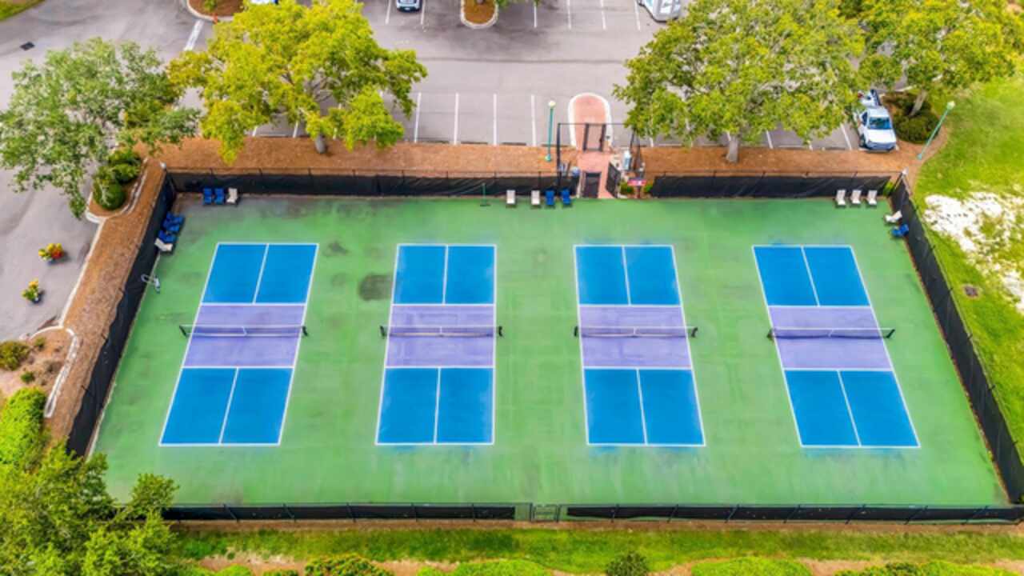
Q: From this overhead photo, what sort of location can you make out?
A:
sports ground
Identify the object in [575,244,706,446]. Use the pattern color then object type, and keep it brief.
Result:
blue sports court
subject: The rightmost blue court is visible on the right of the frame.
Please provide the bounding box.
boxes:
[753,245,918,446]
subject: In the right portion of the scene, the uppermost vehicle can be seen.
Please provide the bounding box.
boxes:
[633,0,679,23]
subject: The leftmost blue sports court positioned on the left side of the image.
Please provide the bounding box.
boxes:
[159,242,317,444]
